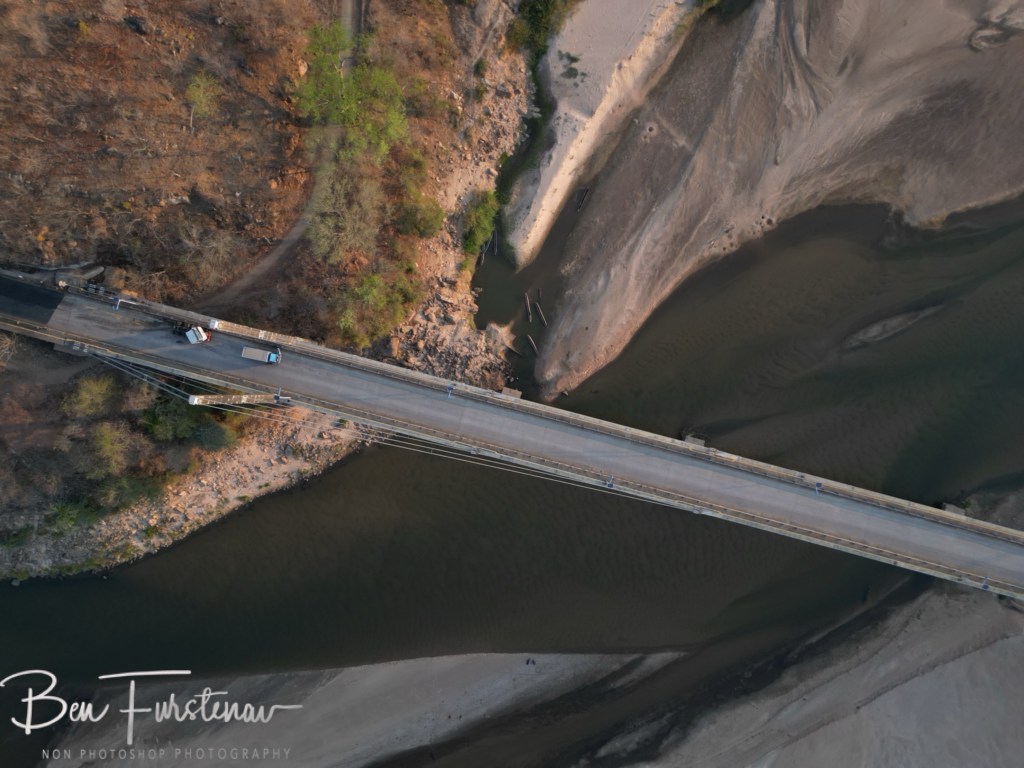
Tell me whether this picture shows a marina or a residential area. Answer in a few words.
marina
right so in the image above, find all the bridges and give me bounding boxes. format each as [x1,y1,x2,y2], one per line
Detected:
[49,281,1024,599]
